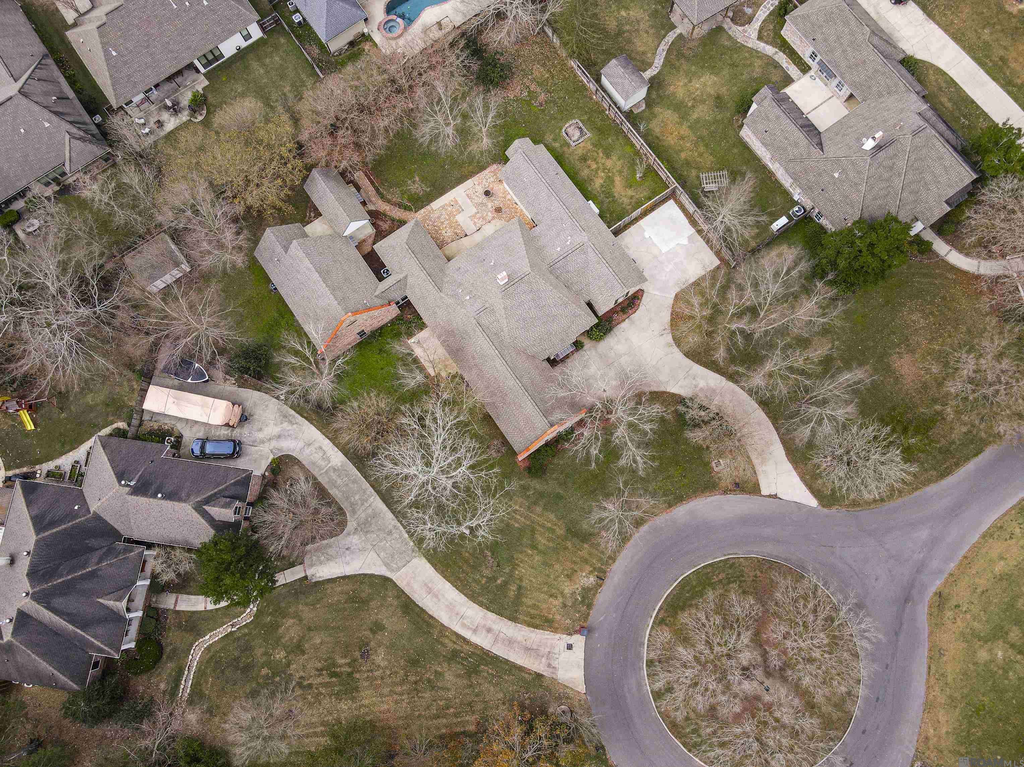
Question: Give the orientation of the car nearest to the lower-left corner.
from left to right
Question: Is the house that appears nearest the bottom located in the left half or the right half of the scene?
left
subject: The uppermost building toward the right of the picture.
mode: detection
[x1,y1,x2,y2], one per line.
[669,0,738,37]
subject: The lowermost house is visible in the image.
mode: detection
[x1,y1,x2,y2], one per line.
[0,434,258,691]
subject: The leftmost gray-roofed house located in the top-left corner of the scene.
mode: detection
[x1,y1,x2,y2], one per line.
[0,0,118,223]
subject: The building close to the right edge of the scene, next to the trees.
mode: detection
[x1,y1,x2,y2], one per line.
[739,0,981,235]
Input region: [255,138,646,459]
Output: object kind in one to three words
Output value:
house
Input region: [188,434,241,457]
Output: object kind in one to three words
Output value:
car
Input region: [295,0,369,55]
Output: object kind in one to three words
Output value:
building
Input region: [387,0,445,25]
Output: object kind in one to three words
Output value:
swimming pool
